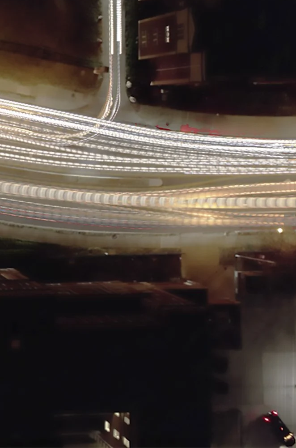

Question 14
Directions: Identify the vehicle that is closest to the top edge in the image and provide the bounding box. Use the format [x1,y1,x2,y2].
[108,31,122,56]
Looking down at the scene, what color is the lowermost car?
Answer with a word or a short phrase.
black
